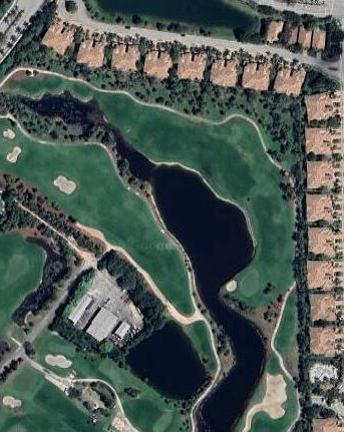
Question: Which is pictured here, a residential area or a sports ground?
residential area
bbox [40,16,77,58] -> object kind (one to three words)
house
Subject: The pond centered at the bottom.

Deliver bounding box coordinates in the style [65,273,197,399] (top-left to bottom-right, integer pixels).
[127,322,209,399]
